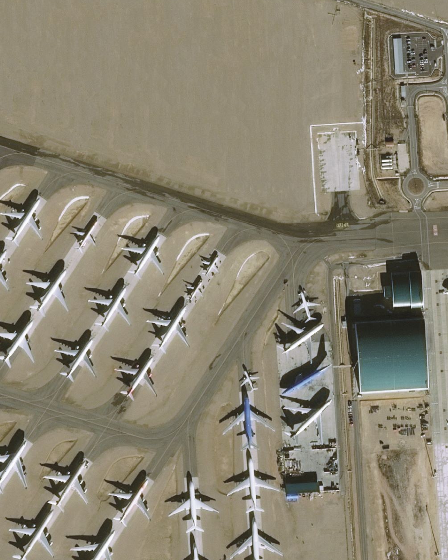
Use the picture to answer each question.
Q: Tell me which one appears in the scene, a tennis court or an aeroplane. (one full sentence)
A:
It is an aeroplane that can be seen here.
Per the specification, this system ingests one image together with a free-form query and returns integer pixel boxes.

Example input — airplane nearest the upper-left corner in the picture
[0,198,43,247]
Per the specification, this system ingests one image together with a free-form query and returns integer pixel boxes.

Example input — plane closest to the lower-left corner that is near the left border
[9,509,54,560]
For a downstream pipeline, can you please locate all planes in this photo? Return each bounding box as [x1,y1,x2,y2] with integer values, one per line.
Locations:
[73,221,98,251]
[169,479,218,533]
[202,256,220,278]
[0,442,28,494]
[27,270,69,317]
[0,198,43,247]
[54,340,96,383]
[186,282,203,302]
[74,531,115,560]
[47,462,86,510]
[226,458,279,514]
[9,509,54,560]
[282,363,333,396]
[108,479,152,527]
[293,292,320,322]
[147,309,189,354]
[285,400,333,443]
[223,395,275,452]
[276,322,324,364]
[240,371,258,392]
[89,288,131,331]
[115,359,156,401]
[0,321,35,366]
[231,519,283,560]
[122,237,164,280]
